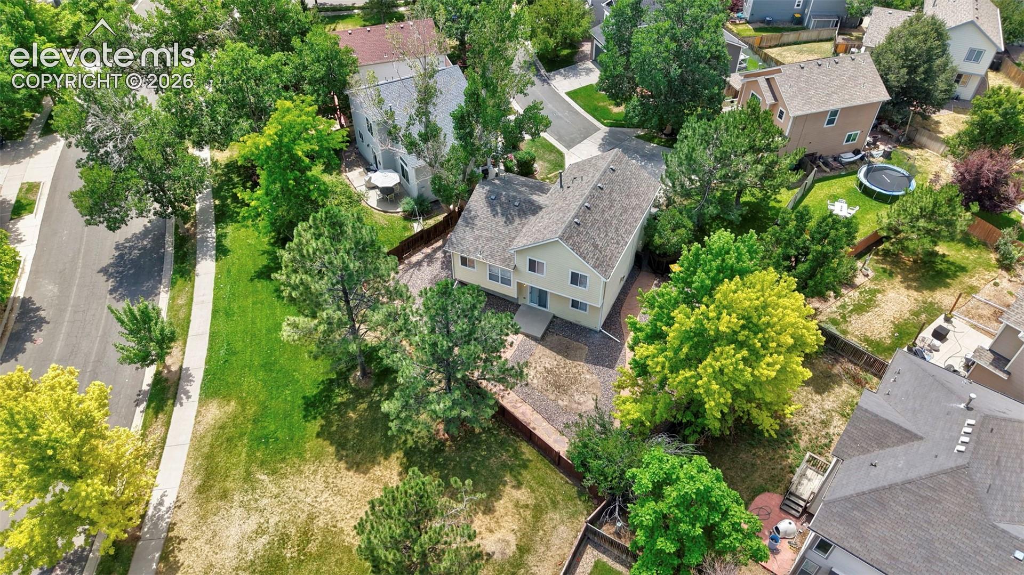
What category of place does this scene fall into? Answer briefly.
residential area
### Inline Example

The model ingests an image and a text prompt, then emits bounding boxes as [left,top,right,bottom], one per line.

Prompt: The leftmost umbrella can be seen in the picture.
[370,171,401,190]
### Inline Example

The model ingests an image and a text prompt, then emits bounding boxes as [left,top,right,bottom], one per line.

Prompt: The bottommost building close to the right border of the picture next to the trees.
[793,346,1024,575]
